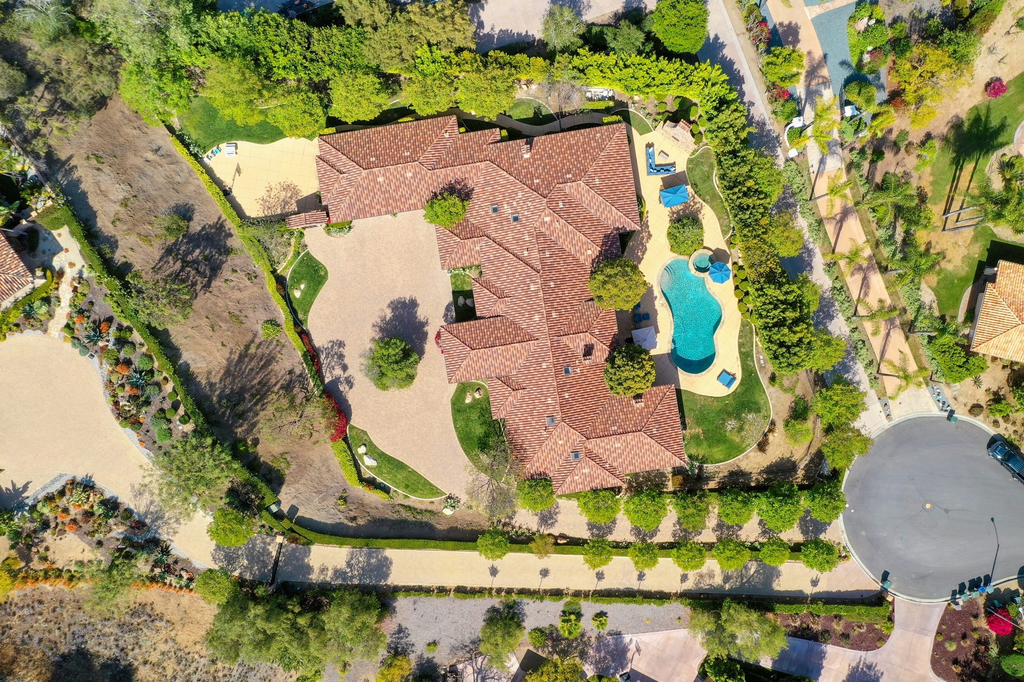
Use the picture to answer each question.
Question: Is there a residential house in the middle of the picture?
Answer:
Yes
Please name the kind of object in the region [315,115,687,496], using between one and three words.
house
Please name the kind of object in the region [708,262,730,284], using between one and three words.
umbrella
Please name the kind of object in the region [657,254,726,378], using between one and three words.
swimming pool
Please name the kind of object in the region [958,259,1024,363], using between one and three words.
house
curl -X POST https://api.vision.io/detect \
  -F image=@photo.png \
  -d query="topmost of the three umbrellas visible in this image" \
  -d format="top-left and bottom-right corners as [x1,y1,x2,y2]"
[659,184,689,208]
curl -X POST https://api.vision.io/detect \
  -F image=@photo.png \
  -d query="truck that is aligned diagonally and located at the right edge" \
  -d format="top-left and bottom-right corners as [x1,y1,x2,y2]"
[993,445,1024,484]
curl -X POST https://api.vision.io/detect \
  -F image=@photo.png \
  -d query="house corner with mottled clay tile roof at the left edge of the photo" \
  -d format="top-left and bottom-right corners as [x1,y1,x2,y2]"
[0,222,43,314]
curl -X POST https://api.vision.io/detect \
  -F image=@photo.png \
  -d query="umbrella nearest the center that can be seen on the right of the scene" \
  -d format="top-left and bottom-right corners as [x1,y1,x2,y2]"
[632,327,657,349]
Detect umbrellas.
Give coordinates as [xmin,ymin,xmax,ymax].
[659,184,689,208]
[708,262,730,284]
[632,327,657,349]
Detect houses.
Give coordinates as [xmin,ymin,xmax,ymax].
[315,115,687,496]
[958,259,1024,363]
[0,222,43,314]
